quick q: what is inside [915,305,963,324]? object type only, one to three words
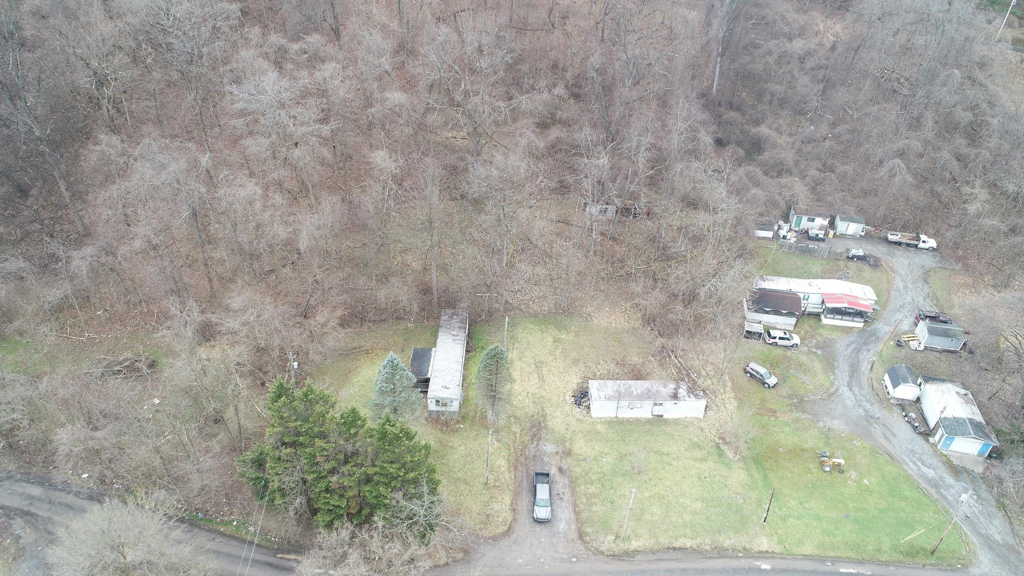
vehicle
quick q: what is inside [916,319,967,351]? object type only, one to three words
shed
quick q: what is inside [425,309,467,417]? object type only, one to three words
house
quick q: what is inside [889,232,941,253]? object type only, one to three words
truck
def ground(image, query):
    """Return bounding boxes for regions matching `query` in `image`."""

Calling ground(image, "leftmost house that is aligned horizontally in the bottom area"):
[590,379,709,418]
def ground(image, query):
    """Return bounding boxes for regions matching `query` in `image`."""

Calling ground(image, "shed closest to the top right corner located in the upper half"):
[835,213,866,241]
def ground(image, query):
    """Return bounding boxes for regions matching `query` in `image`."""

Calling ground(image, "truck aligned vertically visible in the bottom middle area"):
[532,473,554,523]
